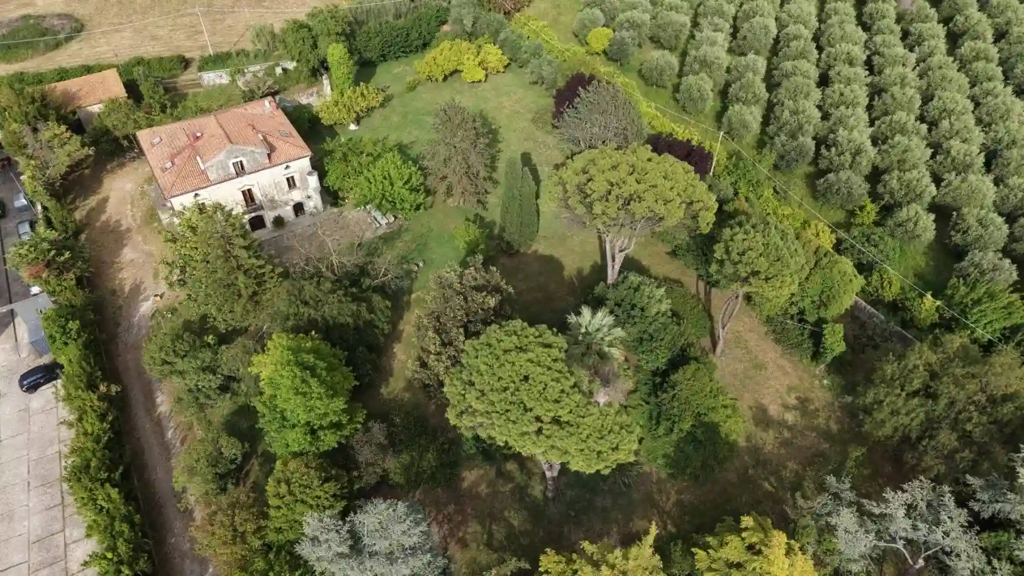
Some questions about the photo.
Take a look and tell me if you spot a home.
Yes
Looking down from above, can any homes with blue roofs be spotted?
No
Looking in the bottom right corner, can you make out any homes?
No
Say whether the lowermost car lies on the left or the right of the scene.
left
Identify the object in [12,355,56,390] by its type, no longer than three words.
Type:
car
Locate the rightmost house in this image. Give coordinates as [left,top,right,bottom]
[131,100,325,256]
